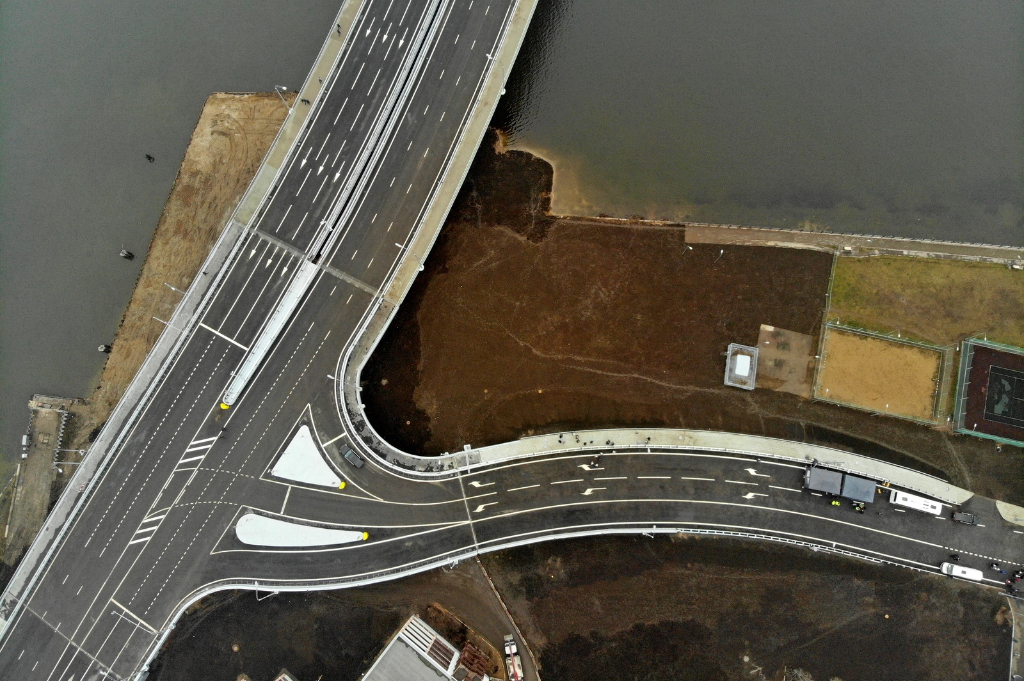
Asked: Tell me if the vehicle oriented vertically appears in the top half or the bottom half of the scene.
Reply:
bottom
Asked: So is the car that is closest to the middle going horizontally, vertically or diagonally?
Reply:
diagonally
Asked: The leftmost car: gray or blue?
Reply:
gray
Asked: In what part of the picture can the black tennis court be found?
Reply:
right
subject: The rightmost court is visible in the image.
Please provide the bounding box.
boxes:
[964,344,1024,444]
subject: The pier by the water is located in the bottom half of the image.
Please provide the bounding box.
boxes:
[4,394,76,537]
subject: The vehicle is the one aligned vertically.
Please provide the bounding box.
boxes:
[503,635,523,681]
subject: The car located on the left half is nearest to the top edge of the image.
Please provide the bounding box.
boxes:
[341,443,364,469]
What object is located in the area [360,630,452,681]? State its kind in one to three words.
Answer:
building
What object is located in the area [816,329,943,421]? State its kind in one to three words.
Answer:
sports court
